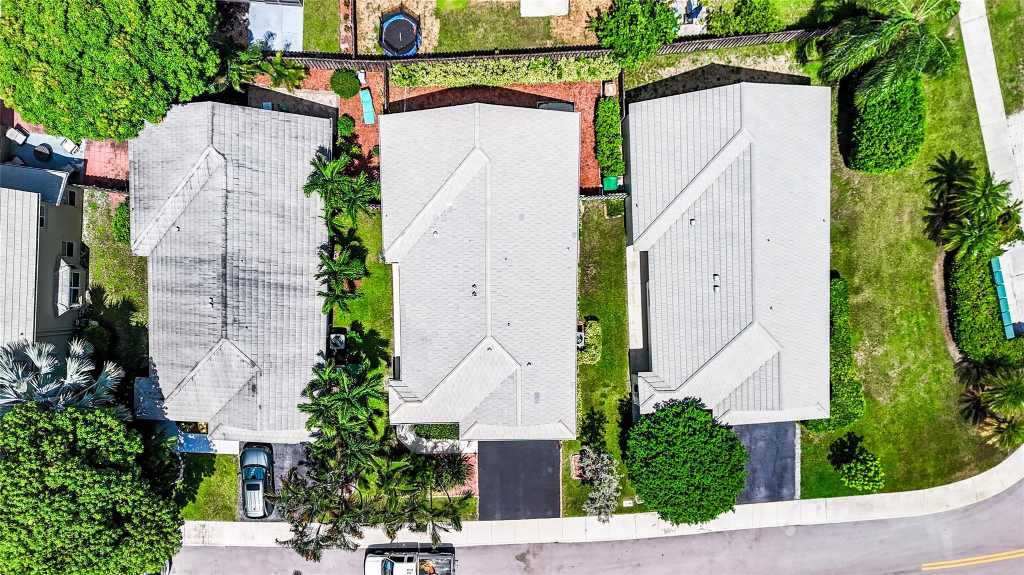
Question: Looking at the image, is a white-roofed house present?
Yes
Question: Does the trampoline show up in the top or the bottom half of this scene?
top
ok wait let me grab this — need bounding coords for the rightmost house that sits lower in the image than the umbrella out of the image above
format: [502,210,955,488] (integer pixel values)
[625,82,832,425]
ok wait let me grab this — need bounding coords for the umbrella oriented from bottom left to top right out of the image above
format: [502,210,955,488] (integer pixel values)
[683,0,709,25]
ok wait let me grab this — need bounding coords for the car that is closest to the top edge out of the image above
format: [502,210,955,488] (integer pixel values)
[237,443,275,519]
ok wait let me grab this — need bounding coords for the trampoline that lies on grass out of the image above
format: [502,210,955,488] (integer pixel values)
[375,0,422,59]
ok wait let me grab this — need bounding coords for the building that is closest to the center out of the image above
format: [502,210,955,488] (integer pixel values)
[379,103,581,442]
